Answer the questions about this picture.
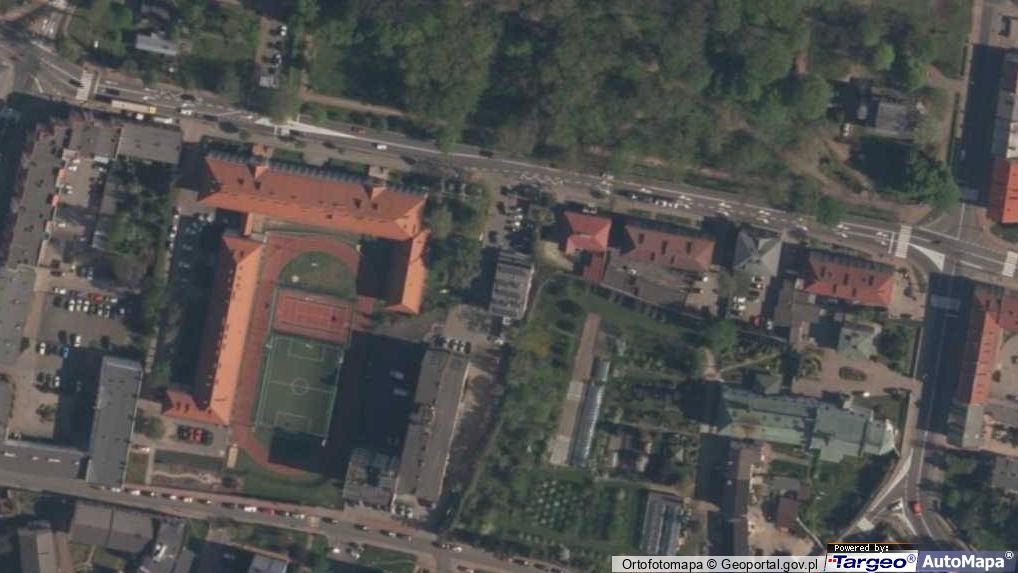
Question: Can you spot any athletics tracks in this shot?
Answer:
Yes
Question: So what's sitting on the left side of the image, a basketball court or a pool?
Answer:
basketball court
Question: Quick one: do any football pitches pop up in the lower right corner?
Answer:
No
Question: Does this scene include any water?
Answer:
No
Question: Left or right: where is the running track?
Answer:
left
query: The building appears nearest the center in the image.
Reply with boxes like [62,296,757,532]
[489,254,533,320]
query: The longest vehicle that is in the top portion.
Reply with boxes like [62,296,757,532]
[110,99,157,114]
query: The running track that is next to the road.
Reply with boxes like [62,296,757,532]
[230,235,376,478]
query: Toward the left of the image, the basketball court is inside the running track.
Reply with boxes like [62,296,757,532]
[273,288,352,344]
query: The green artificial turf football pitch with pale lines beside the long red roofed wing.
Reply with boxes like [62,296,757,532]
[254,334,345,439]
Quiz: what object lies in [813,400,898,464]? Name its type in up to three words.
building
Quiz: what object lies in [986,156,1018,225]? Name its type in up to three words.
house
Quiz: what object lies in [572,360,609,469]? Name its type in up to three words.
greenhouse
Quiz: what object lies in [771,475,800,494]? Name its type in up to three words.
shed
